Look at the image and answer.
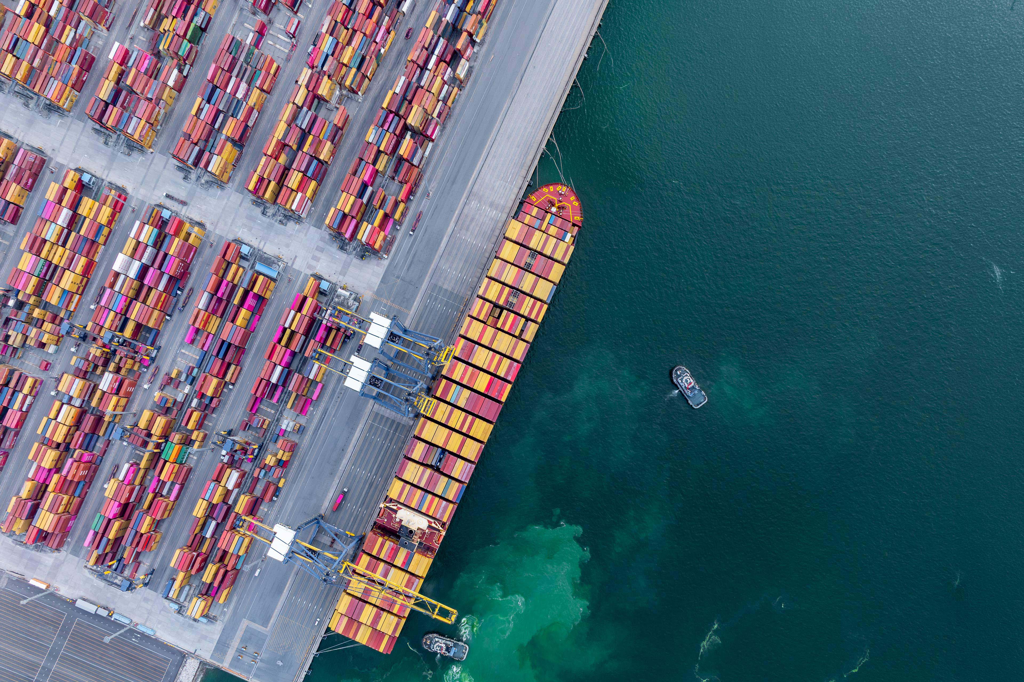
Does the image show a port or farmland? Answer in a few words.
port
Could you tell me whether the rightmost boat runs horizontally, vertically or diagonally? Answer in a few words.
diagonally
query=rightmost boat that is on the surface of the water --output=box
[672,367,710,409]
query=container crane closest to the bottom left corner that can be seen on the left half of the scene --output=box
[96,556,152,593]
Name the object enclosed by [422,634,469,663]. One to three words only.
boat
